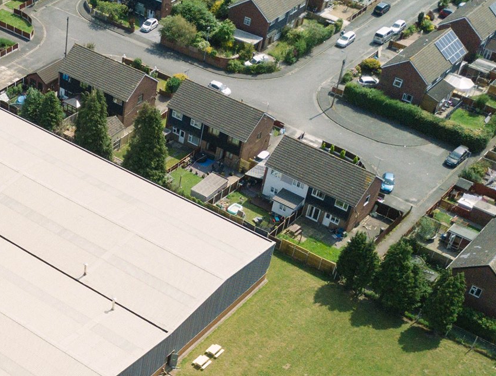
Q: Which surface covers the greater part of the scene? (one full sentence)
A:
The bulk of the photo consists of buildings.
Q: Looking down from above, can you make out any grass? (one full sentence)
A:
Yes, there's grass in this view.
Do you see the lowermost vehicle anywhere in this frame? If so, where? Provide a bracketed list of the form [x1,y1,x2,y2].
[381,172,395,193]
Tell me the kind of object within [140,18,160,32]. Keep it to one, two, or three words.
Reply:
car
